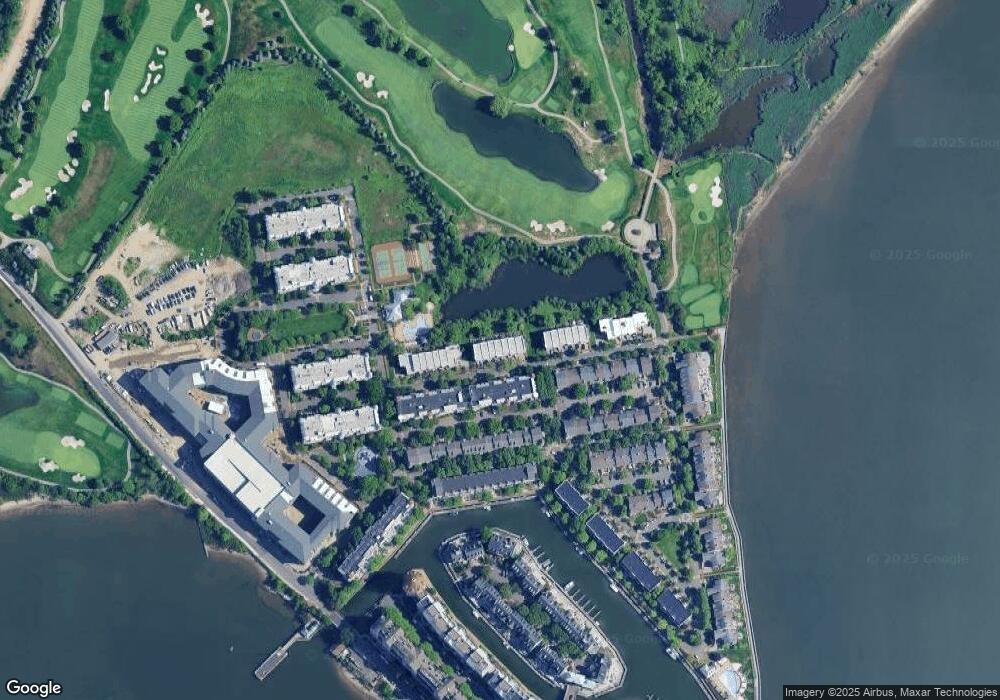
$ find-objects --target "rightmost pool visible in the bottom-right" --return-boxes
[709,657,746,700]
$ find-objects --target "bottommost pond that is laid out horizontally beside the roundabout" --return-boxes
[441,254,635,322]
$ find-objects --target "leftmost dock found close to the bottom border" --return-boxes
[254,628,304,680]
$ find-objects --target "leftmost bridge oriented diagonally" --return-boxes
[318,599,361,646]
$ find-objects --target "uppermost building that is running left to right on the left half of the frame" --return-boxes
[266,203,347,243]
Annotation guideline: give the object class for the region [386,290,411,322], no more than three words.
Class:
building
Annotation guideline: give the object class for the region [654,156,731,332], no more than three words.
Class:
golf course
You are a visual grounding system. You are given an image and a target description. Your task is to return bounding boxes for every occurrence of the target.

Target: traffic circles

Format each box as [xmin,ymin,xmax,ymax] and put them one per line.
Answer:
[622,175,656,252]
